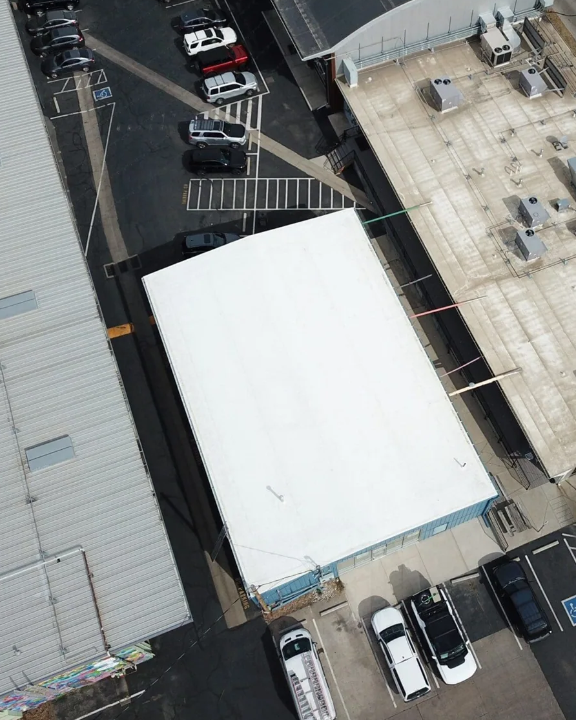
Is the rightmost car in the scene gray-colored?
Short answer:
No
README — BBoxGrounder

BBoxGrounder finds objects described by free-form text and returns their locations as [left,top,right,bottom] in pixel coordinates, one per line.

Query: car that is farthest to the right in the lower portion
[490,555,555,644]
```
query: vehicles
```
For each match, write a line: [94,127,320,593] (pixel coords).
[196,43,250,79]
[189,119,247,148]
[278,623,340,720]
[411,583,476,685]
[20,0,81,17]
[189,144,247,177]
[183,27,238,60]
[201,74,259,109]
[171,6,228,37]
[490,555,555,644]
[31,24,87,59]
[182,225,244,259]
[374,605,438,708]
[27,10,81,37]
[42,50,96,81]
